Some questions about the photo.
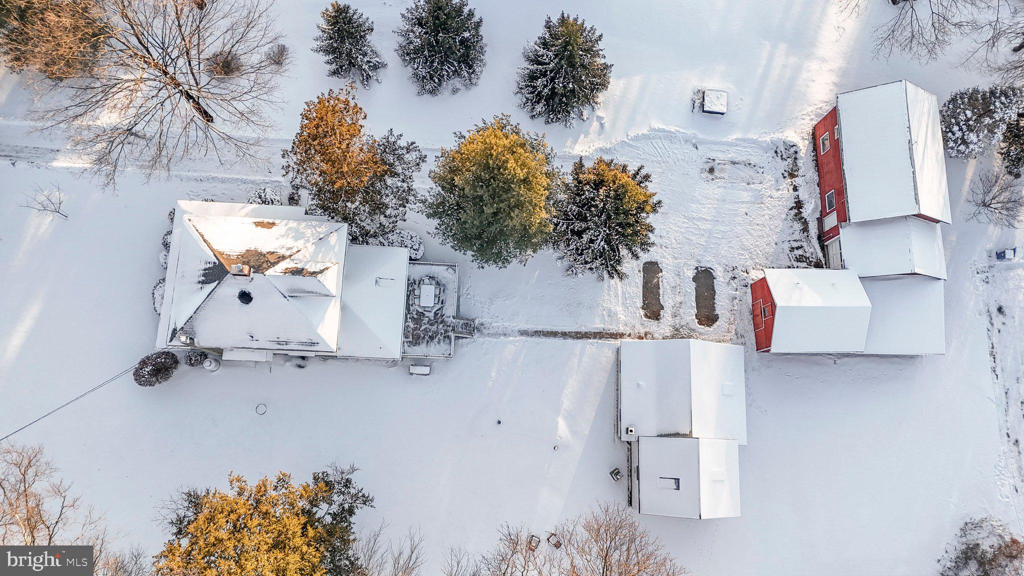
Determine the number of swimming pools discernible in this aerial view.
0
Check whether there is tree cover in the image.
Yes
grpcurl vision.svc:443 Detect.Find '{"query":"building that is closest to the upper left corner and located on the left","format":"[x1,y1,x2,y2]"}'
[155,201,409,373]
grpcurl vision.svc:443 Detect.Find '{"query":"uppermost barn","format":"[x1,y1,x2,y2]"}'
[814,79,952,225]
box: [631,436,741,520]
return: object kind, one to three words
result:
building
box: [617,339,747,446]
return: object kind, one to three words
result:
building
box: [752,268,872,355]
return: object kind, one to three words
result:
barn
